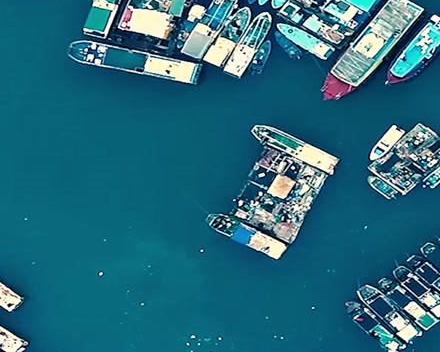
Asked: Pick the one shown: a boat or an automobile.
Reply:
boat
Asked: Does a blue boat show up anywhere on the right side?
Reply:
Yes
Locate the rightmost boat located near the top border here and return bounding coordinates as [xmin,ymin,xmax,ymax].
[386,12,440,85]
